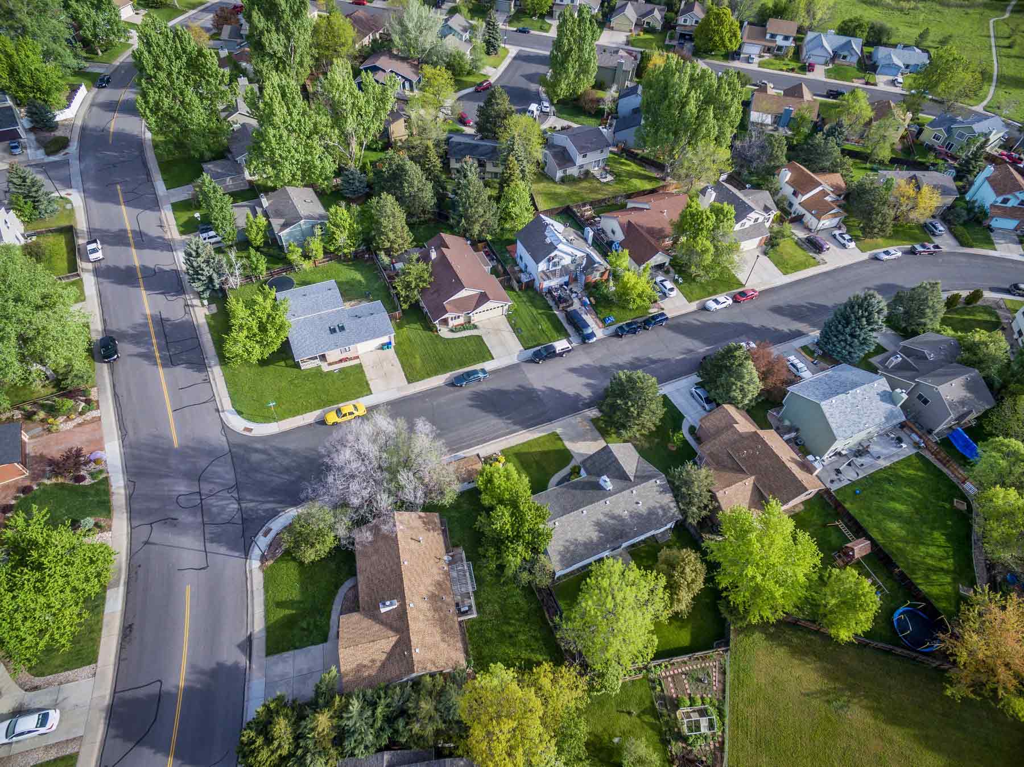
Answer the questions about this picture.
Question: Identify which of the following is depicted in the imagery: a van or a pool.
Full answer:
This aerial view contains a van.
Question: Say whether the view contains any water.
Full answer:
No, no water is visible.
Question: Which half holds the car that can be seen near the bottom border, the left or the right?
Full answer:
It is on the left.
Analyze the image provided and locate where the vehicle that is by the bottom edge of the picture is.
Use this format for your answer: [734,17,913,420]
[0,704,64,750]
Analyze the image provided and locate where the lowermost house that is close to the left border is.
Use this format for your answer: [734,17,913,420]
[0,421,46,470]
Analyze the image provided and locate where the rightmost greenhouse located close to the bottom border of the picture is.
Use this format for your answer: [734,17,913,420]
[676,705,716,741]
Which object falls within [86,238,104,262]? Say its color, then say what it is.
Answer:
white vehicle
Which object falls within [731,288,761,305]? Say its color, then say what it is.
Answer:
red car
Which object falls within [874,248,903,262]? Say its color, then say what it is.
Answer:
white car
